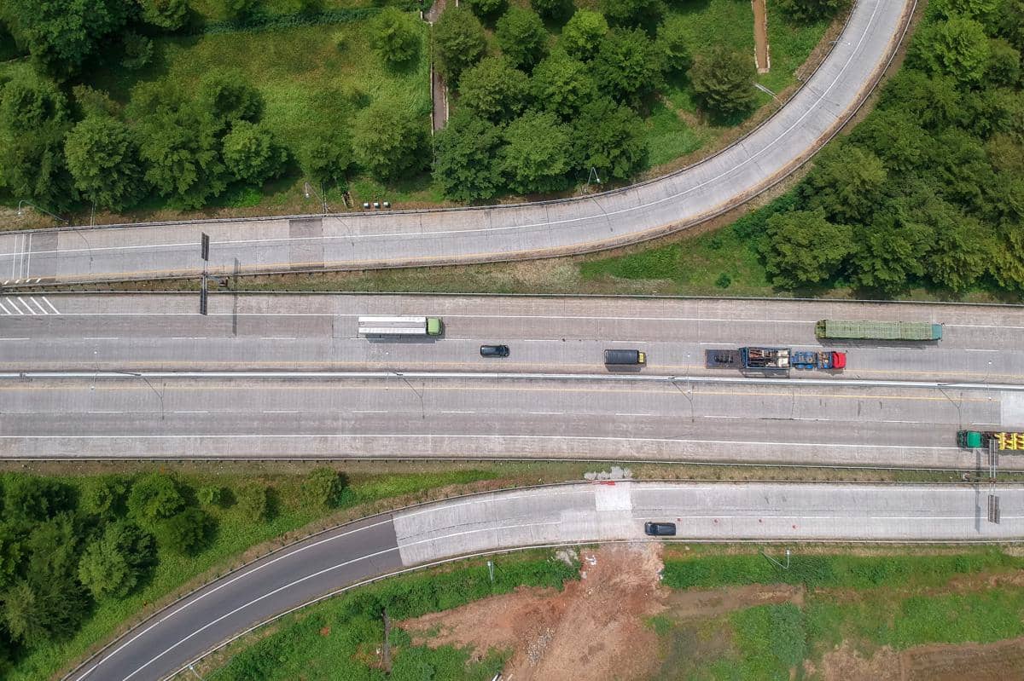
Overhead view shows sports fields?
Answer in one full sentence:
No, there appears to be no sports field in this shot.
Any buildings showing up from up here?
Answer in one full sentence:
No, there appears to be no building in this shot.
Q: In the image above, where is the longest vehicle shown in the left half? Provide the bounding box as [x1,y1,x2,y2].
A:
[358,317,444,337]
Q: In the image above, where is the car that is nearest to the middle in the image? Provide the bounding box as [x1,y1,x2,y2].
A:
[479,345,509,357]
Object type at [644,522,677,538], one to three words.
car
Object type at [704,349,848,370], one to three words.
truck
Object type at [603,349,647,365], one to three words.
vehicle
